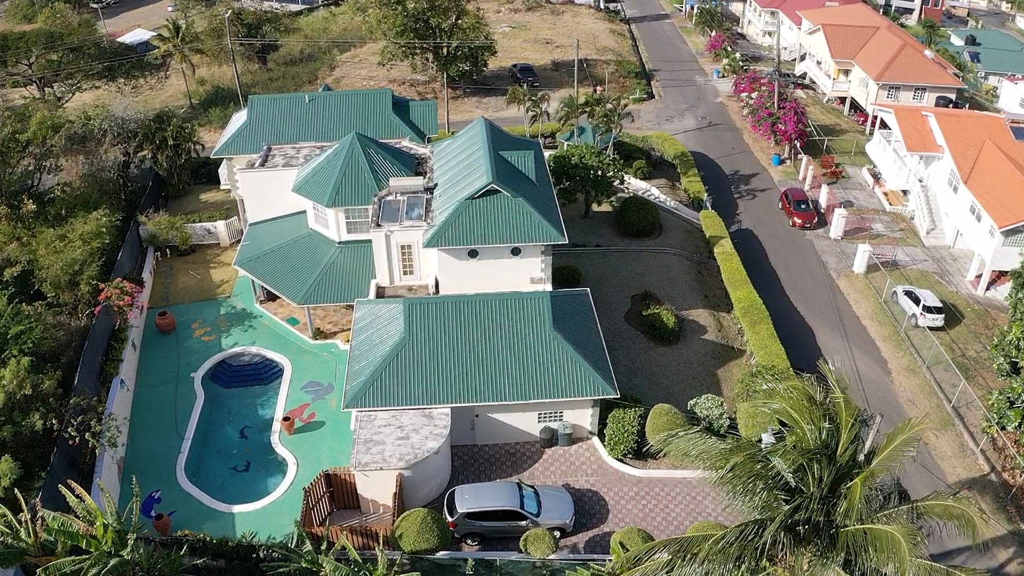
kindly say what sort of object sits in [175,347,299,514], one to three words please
swimming pool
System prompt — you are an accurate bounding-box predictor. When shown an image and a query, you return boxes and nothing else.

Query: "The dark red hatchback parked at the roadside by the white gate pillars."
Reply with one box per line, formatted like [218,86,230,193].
[778,190,821,230]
